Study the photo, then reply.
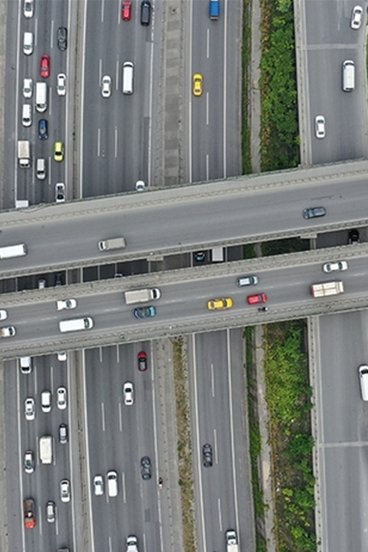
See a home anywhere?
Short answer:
No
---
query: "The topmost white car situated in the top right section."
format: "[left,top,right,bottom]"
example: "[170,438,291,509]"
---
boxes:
[350,5,363,30]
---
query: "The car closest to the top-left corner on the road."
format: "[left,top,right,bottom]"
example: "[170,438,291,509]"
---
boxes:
[22,0,34,18]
